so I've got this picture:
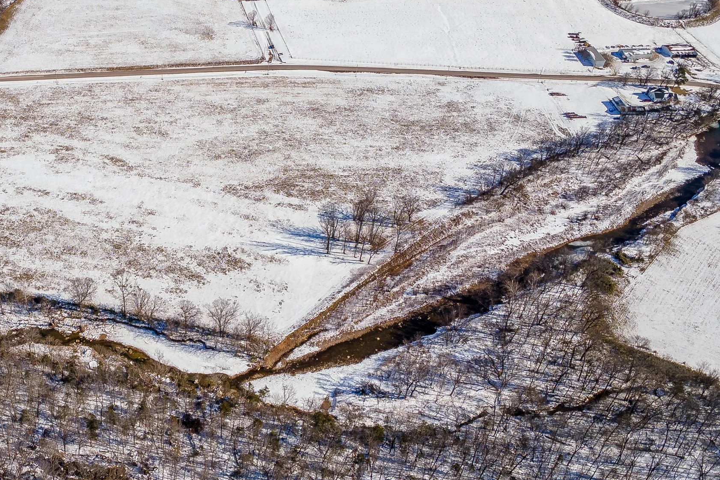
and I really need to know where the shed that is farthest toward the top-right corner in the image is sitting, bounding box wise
[654,44,696,57]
